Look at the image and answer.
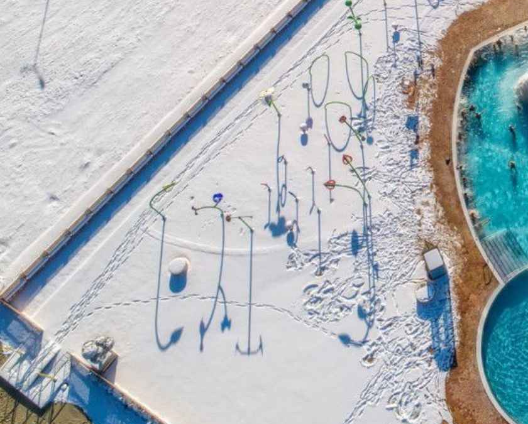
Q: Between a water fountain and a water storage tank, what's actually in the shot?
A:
water fountain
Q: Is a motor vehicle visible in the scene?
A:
No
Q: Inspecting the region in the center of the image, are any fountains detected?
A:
Yes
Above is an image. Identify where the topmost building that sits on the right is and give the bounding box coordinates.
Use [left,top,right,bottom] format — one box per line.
[424,249,447,282]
